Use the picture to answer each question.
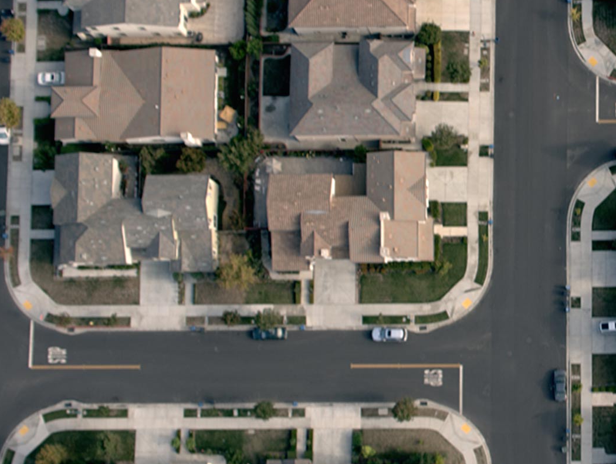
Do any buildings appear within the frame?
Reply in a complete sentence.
Yes, there is a building in the image.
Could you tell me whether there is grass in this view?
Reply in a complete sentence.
Yes, the picture does contain grass.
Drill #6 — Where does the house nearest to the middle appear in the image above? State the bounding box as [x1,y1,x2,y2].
[265,150,437,274]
